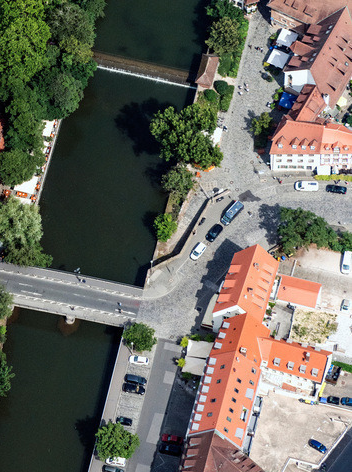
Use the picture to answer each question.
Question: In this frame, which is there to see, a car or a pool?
car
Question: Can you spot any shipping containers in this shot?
No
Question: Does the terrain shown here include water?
Yes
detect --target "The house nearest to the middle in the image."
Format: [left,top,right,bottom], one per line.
[212,245,278,331]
